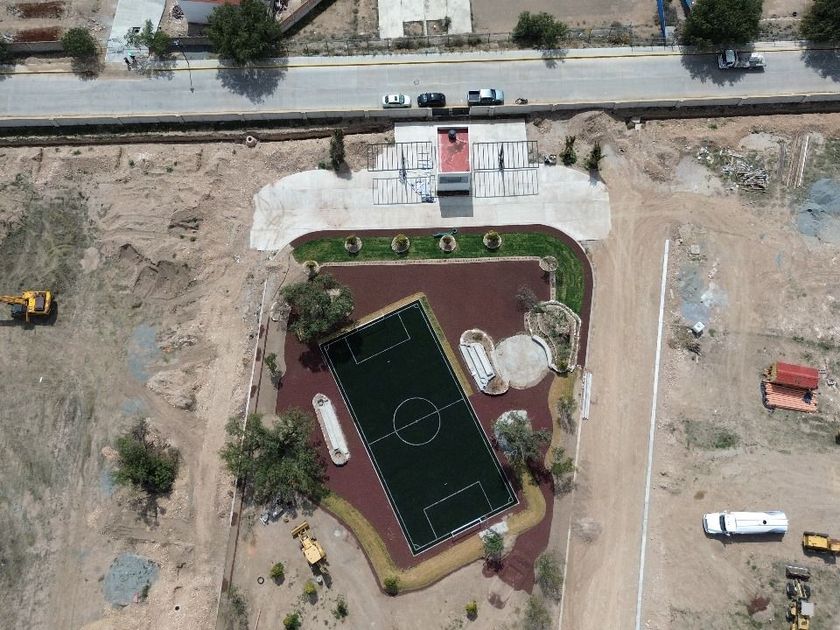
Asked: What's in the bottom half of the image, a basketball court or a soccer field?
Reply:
soccer field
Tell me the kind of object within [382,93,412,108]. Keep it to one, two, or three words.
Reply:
car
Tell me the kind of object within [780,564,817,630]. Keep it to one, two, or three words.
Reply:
work vehicle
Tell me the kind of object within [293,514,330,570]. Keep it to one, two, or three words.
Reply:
work vehicle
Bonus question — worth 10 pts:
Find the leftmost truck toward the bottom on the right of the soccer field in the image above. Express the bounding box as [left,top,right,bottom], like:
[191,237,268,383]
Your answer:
[696,509,789,535]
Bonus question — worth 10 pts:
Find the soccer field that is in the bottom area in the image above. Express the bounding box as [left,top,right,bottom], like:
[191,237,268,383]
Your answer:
[319,299,518,556]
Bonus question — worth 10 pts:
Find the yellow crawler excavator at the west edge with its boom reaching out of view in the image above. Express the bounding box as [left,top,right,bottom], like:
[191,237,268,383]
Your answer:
[0,290,61,314]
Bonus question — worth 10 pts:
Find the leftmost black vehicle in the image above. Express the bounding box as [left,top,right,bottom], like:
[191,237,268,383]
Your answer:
[417,92,445,107]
